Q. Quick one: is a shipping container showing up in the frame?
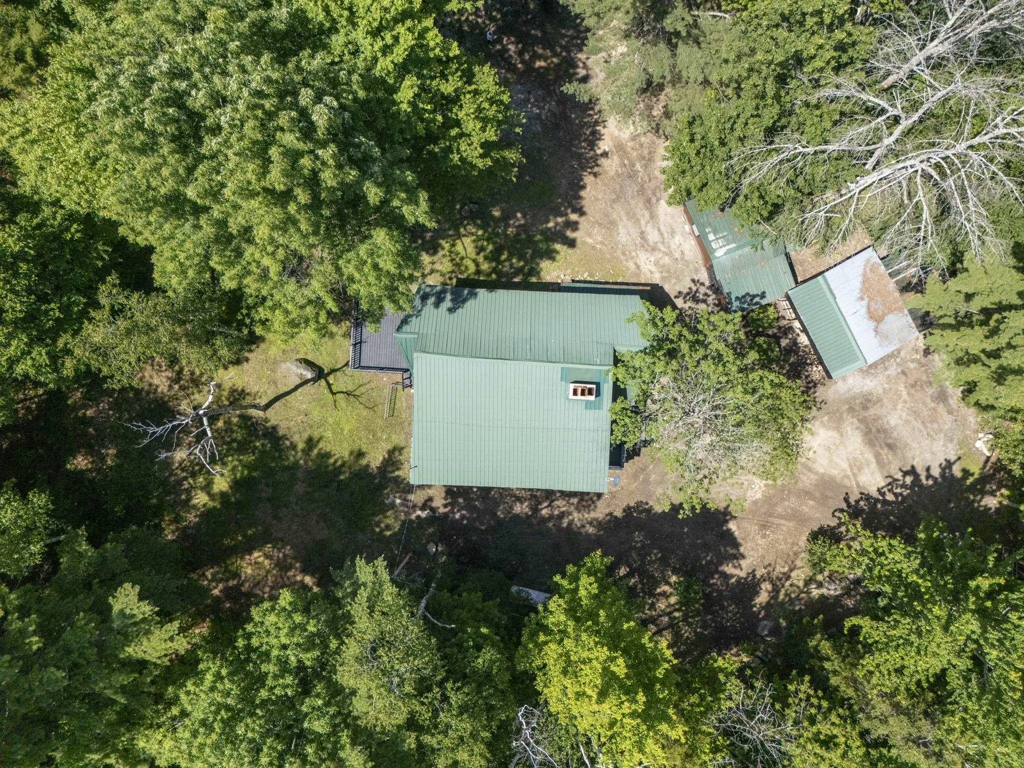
No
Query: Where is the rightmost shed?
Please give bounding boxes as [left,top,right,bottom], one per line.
[784,237,937,379]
